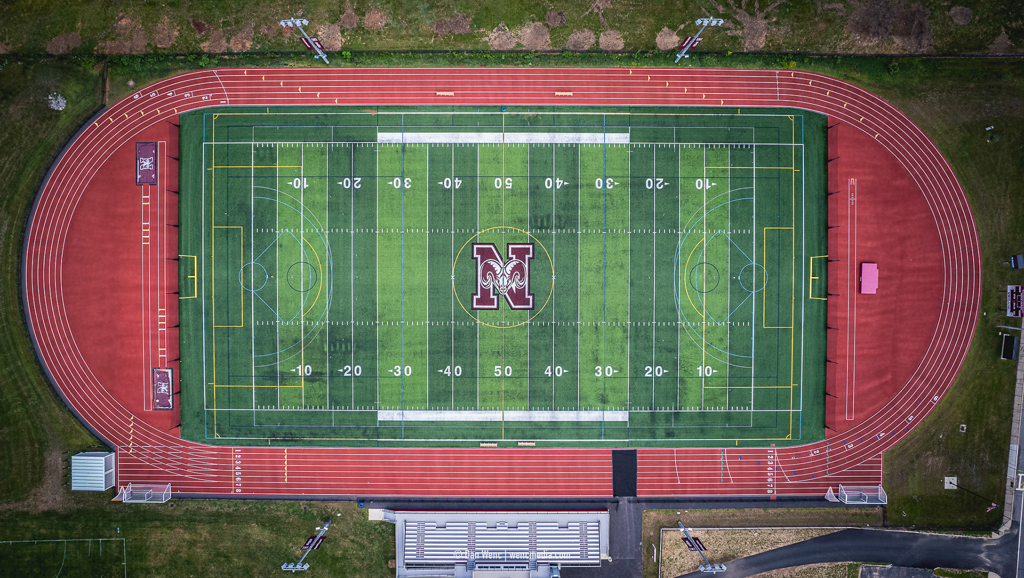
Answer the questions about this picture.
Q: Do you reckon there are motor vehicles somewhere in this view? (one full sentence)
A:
No, there isn't any motor vehicle down there.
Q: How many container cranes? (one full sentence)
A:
The count of container cranes is 0.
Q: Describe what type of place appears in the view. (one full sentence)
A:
This looks like a sports ground.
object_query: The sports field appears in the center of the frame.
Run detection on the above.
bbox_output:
[179,106,828,447]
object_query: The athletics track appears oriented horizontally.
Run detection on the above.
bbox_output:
[25,67,981,498]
